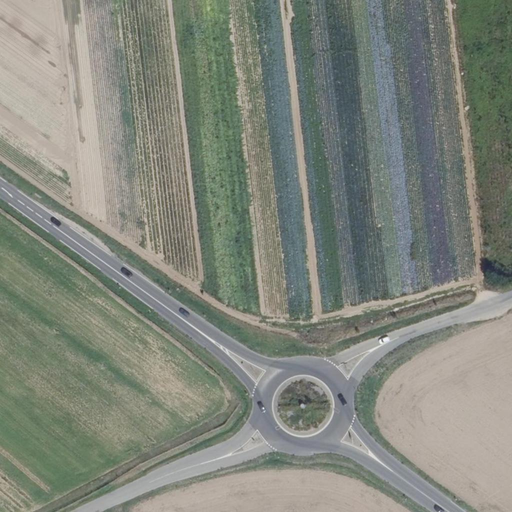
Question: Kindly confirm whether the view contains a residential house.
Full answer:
No, no residential house can be seen from above.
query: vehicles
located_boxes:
[338,393,347,406]
[378,336,390,344]
[179,308,190,317]
[434,504,445,512]
[258,401,266,412]
[50,216,62,226]
[121,267,132,276]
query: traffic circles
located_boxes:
[240,346,358,454]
